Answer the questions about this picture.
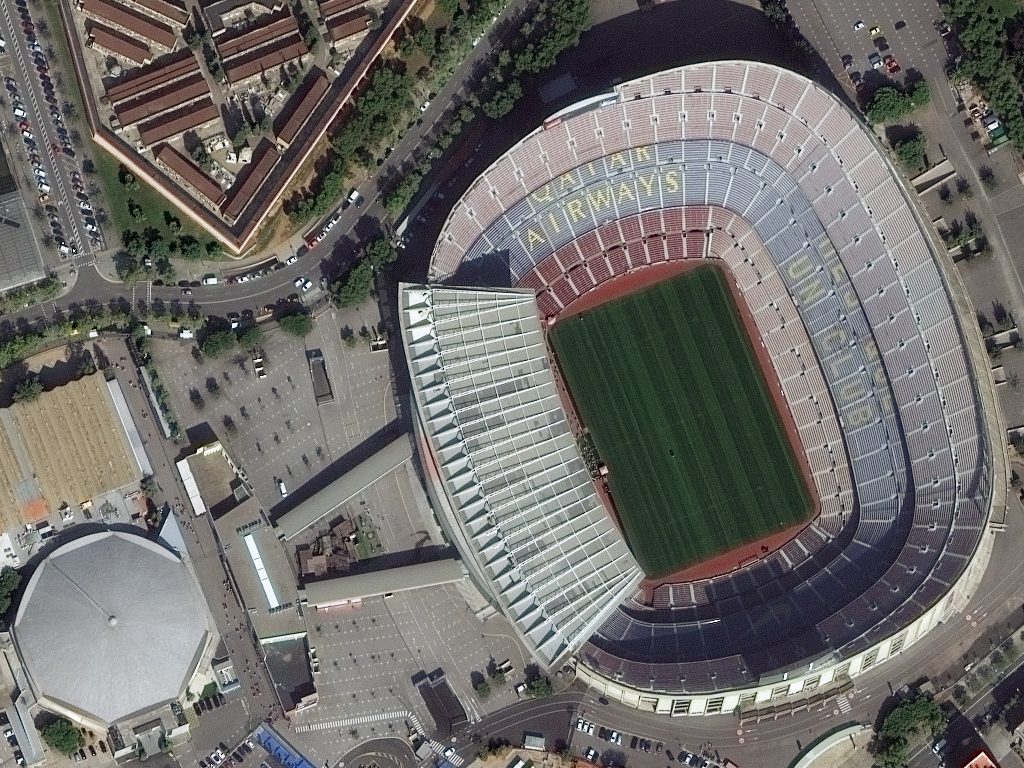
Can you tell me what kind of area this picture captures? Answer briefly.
sports ground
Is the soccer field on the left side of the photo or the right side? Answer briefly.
right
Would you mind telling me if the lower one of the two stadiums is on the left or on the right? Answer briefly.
left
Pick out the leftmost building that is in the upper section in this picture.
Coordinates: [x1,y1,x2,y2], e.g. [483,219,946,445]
[0,191,46,296]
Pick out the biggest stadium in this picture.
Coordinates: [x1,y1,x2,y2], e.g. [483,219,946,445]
[399,59,1004,715]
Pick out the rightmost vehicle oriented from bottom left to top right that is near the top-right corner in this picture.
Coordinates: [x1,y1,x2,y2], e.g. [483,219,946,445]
[983,113,999,132]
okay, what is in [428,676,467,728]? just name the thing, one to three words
building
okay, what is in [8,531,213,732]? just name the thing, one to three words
stadium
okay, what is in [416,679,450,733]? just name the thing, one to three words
building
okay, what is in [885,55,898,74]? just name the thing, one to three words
vehicle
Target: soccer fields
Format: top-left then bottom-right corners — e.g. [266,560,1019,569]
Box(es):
[540,257,821,593]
